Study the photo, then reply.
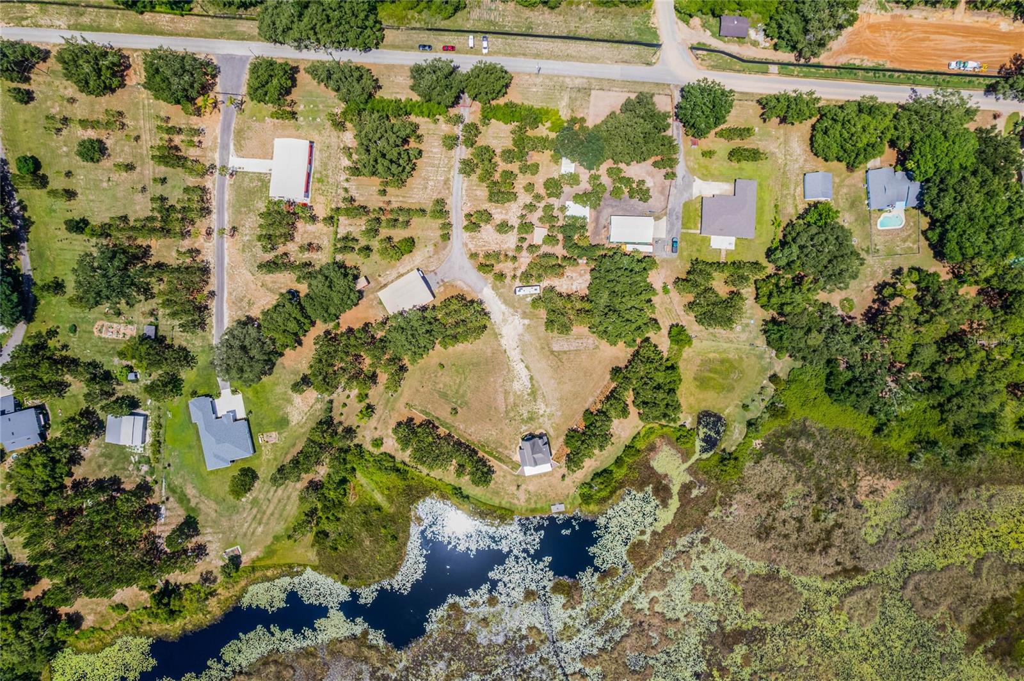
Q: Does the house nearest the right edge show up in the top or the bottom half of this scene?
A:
top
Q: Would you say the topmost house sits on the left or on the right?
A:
right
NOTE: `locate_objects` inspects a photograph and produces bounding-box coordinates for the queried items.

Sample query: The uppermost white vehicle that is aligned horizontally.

[946,59,985,72]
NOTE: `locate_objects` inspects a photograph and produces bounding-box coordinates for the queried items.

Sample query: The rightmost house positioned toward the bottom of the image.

[519,432,555,476]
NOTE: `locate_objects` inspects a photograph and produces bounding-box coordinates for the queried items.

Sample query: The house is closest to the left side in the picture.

[0,395,45,454]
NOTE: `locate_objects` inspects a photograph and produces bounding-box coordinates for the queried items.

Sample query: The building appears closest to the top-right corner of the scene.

[864,166,920,209]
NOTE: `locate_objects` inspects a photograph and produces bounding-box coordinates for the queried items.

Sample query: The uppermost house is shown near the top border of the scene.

[719,15,749,40]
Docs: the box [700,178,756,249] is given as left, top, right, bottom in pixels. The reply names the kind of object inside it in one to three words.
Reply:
house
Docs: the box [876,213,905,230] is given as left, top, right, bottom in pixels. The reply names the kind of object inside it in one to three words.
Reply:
swimming pool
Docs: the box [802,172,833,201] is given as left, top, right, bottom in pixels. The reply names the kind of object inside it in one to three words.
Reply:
shed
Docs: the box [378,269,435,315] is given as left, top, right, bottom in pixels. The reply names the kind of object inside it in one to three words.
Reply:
barn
